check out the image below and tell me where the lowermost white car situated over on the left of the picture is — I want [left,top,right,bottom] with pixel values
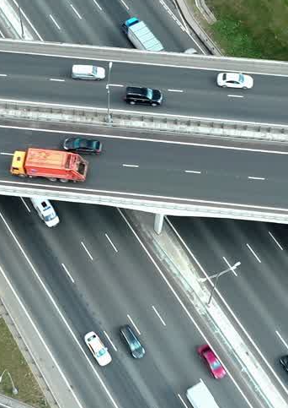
[81,330,112,369]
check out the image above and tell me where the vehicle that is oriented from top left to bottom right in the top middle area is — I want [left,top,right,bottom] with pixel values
[124,14,165,52]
